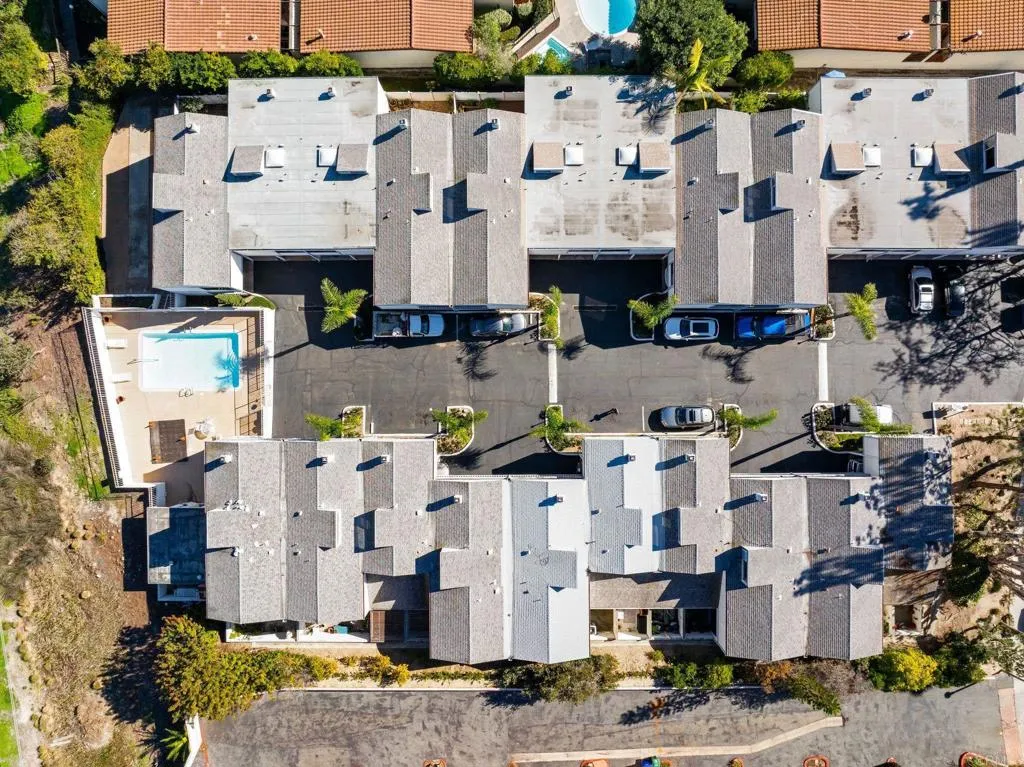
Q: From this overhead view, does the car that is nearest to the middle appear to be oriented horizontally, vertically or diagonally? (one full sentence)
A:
Seen from above, the car that is nearest to the middle lies horizontally.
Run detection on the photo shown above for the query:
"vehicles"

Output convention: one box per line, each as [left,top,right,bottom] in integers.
[937,270,969,325]
[661,315,720,341]
[470,312,528,338]
[372,310,444,337]
[656,404,716,430]
[735,312,812,340]
[905,264,936,317]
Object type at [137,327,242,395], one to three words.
swimming pool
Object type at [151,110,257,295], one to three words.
house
